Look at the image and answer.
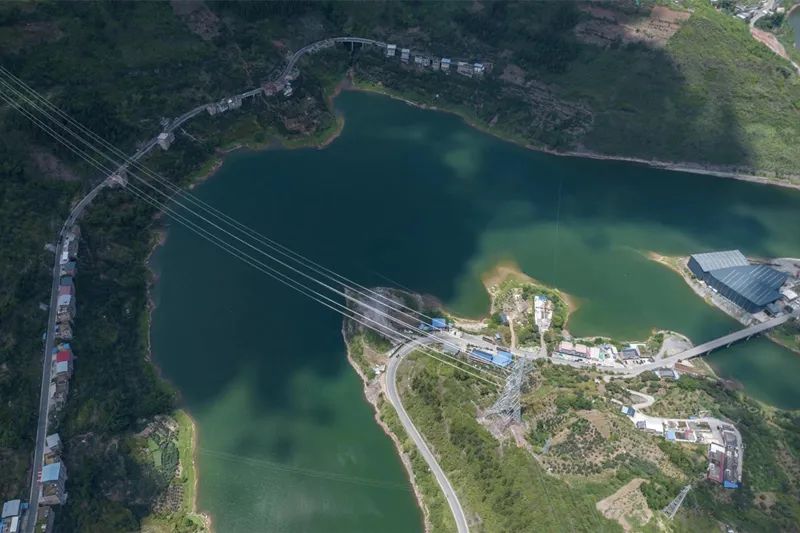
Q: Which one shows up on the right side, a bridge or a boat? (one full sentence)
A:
What appears on the right side is a bridge.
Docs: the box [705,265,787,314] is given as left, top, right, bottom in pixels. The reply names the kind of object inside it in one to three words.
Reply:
building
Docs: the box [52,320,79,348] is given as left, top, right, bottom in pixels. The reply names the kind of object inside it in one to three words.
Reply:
house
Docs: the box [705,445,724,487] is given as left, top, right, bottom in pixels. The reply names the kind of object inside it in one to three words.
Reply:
building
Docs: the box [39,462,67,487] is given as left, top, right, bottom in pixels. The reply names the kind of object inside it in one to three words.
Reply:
house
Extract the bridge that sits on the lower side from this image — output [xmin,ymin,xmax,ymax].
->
[685,315,780,358]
